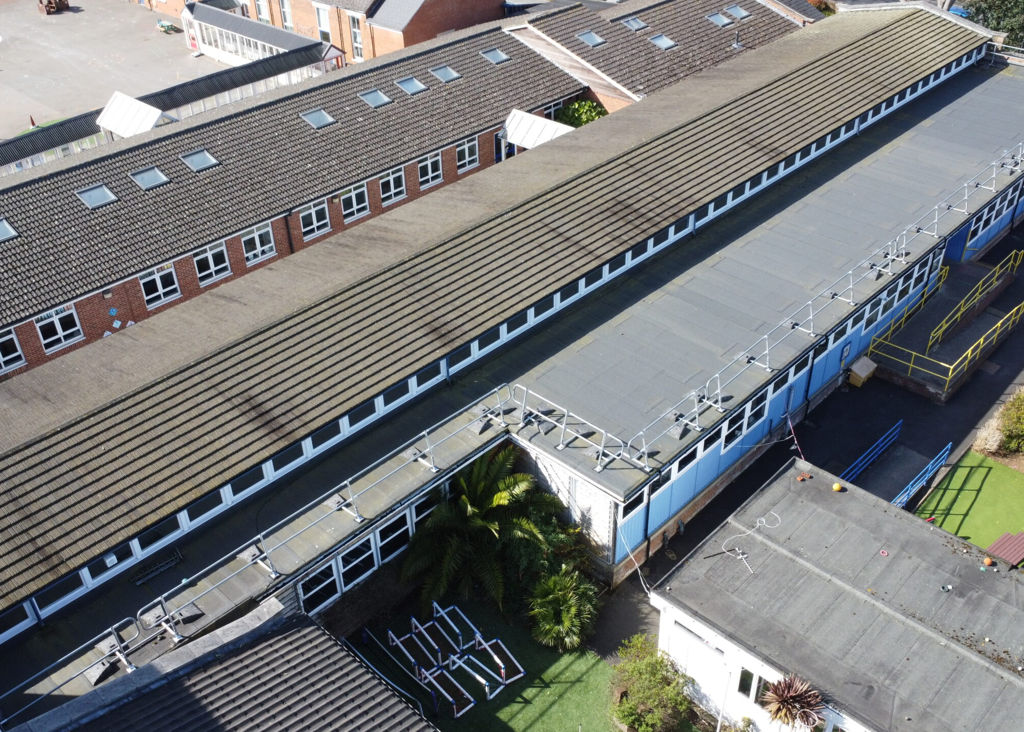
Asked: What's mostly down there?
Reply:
buildings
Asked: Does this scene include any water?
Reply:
No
